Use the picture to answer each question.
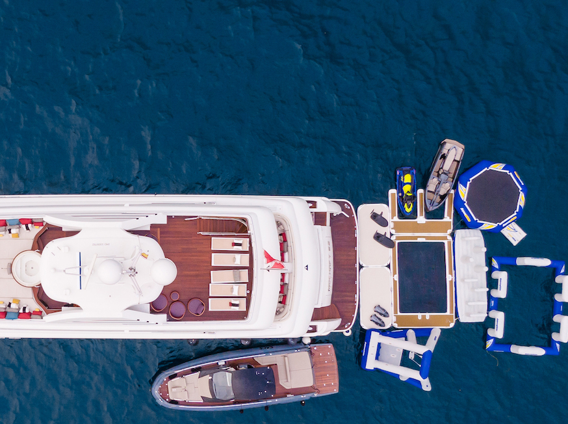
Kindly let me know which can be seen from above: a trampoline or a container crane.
trampoline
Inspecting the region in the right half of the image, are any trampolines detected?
Yes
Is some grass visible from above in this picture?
No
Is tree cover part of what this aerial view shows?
No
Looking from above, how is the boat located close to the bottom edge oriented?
horizontally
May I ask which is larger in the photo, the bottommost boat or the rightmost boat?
the bottommost boat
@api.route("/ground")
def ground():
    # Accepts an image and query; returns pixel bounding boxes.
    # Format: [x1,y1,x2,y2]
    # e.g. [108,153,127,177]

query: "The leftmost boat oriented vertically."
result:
[396,167,417,215]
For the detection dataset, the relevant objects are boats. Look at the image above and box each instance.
[396,167,417,215]
[0,194,359,339]
[426,138,465,211]
[149,344,338,413]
